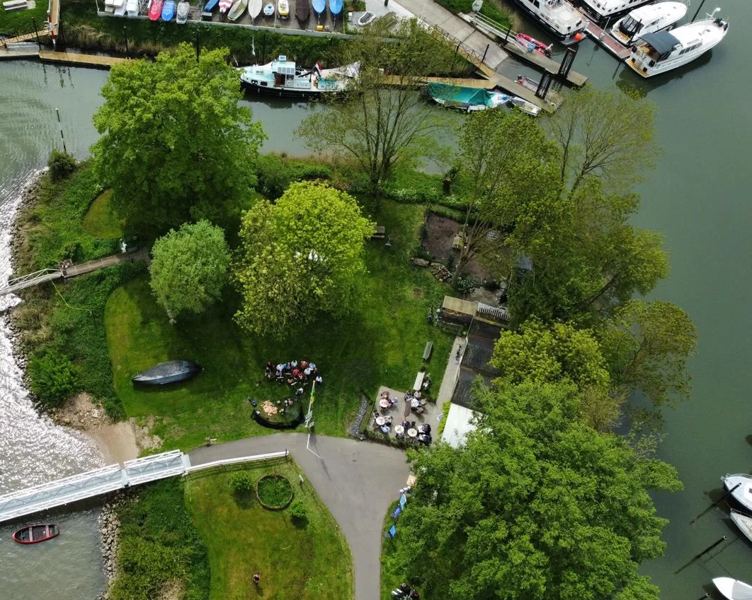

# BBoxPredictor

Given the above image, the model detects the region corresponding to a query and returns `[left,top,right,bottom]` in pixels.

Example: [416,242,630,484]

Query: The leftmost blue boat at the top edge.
[161,0,176,27]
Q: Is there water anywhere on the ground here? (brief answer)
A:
Yes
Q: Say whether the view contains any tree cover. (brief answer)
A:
Yes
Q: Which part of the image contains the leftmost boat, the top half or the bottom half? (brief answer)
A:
bottom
